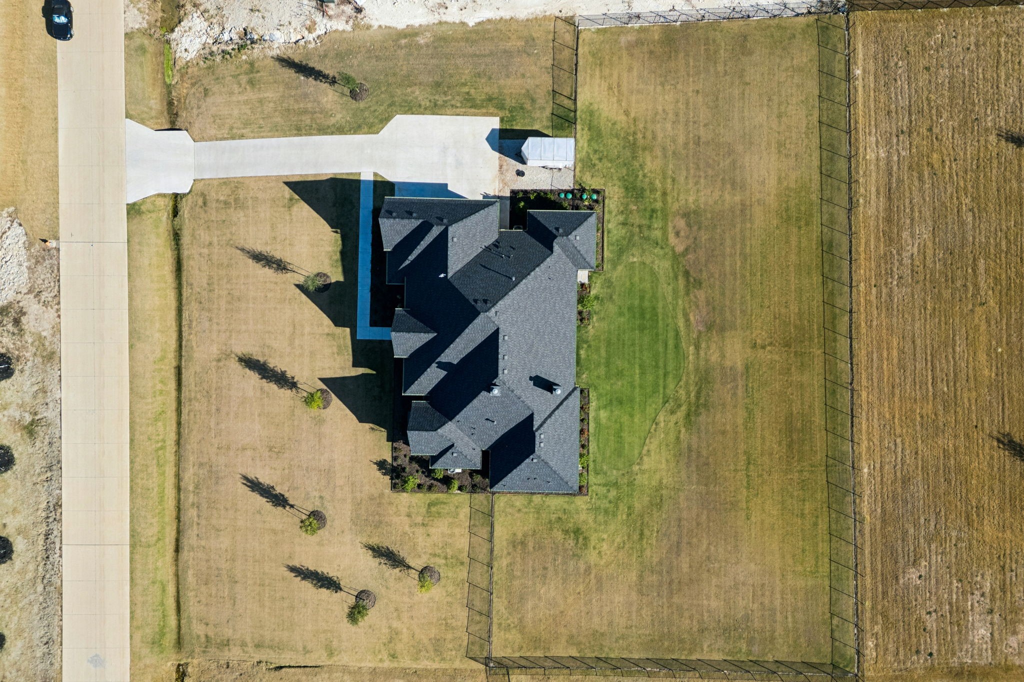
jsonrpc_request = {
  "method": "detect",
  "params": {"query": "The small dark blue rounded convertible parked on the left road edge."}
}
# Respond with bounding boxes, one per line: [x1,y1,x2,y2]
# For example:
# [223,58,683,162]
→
[48,0,75,41]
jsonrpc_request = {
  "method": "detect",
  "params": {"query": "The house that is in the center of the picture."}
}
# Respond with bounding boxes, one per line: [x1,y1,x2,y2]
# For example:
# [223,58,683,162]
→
[379,196,597,494]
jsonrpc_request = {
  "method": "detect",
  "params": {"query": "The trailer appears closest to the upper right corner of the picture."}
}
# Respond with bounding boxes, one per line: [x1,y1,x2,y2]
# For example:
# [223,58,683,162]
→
[512,137,574,168]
